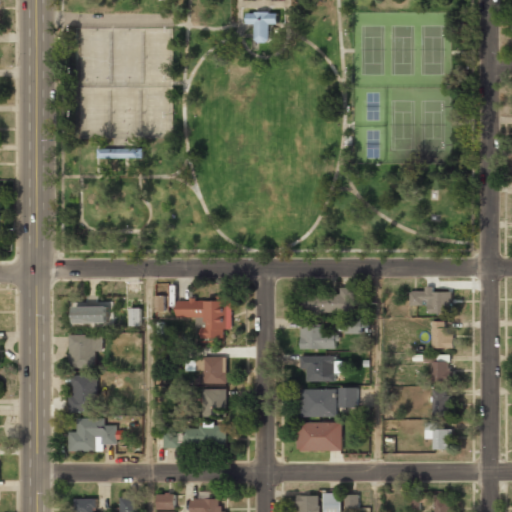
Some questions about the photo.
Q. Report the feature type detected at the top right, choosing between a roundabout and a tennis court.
tennis court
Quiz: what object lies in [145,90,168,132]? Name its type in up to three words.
basketball court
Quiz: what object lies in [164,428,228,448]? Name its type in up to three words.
house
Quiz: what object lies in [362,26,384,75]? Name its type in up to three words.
tennis court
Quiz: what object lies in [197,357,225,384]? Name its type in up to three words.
house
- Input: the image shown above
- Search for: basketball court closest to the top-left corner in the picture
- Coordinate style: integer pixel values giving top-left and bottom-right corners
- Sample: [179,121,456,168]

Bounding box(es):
[84,29,110,82]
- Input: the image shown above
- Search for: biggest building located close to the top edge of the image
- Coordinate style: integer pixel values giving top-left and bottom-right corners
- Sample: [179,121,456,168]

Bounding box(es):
[244,11,278,40]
